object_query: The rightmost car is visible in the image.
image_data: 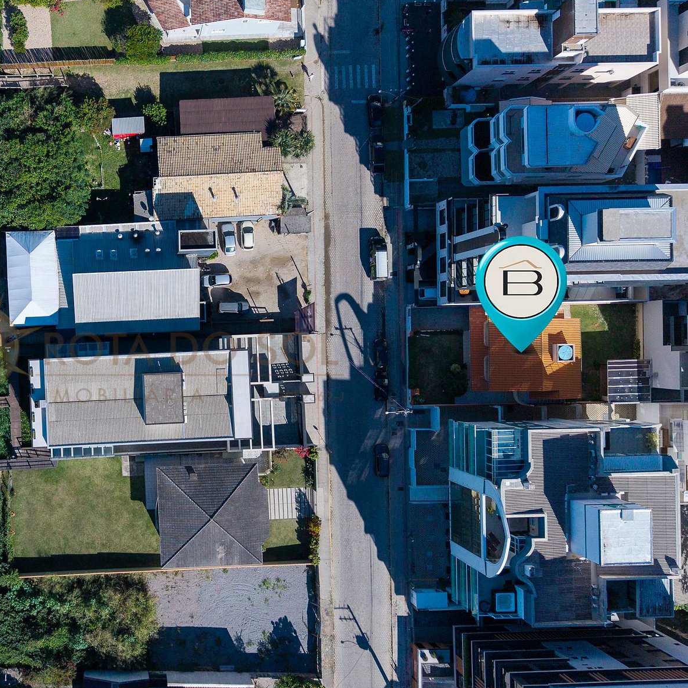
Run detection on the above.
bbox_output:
[412,285,435,301]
